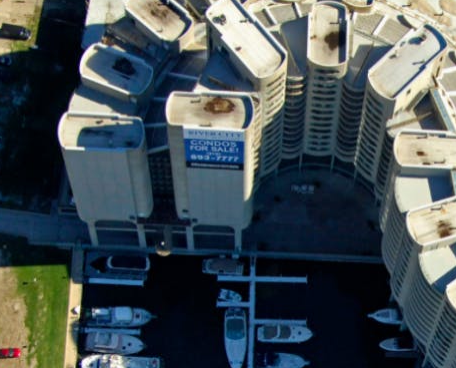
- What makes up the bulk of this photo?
buildings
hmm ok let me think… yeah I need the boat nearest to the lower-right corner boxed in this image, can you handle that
[380,337,420,352]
